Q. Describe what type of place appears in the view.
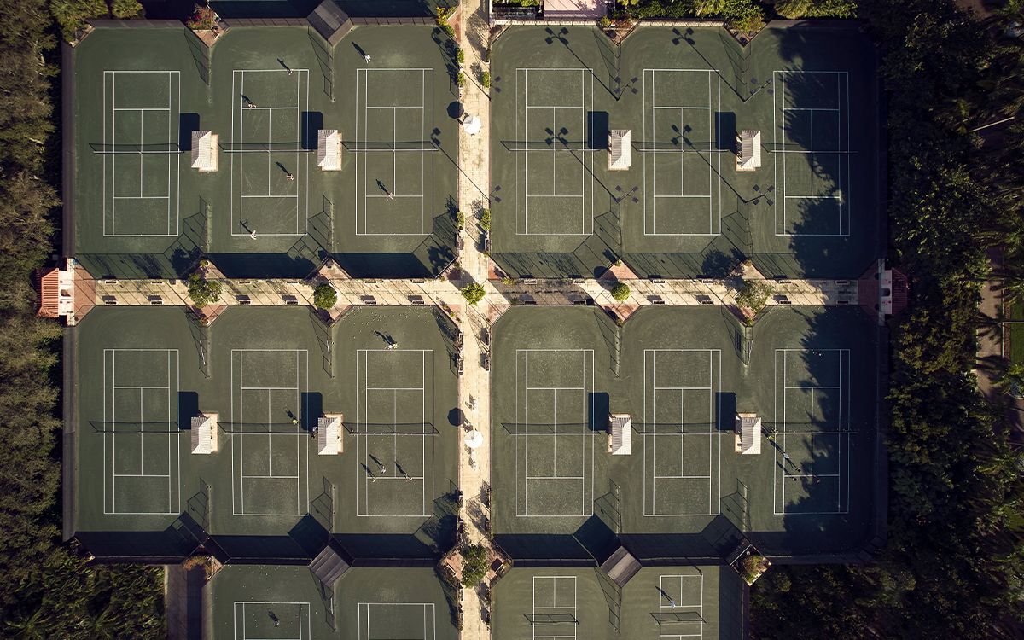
sports ground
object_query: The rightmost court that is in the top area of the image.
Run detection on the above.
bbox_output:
[747,26,877,279]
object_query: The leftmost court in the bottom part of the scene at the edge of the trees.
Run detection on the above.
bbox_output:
[75,306,208,558]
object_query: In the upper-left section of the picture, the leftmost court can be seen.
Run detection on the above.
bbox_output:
[75,26,208,278]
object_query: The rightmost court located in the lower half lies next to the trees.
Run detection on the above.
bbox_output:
[747,306,877,558]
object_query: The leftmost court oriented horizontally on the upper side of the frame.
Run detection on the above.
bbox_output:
[212,0,321,24]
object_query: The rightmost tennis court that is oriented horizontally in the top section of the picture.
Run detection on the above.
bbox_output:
[332,0,458,21]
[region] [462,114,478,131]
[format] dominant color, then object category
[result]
white umbrella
